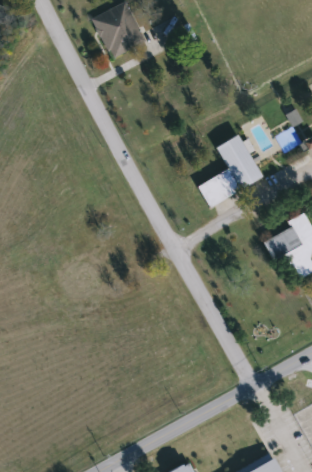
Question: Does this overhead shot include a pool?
Yes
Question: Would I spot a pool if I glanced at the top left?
No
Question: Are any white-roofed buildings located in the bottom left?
No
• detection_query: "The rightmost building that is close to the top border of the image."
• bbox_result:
[92,2,145,58]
